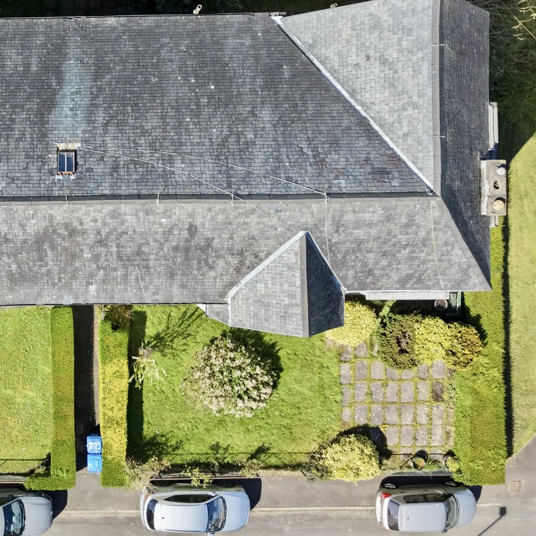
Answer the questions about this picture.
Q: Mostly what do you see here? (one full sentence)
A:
What you mostly see from above here is buildings.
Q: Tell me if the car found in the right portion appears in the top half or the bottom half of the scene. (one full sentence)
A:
The car found in the right portion sits in the bottom half of the picture.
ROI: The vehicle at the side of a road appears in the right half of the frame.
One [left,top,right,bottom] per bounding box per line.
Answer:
[373,480,473,536]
